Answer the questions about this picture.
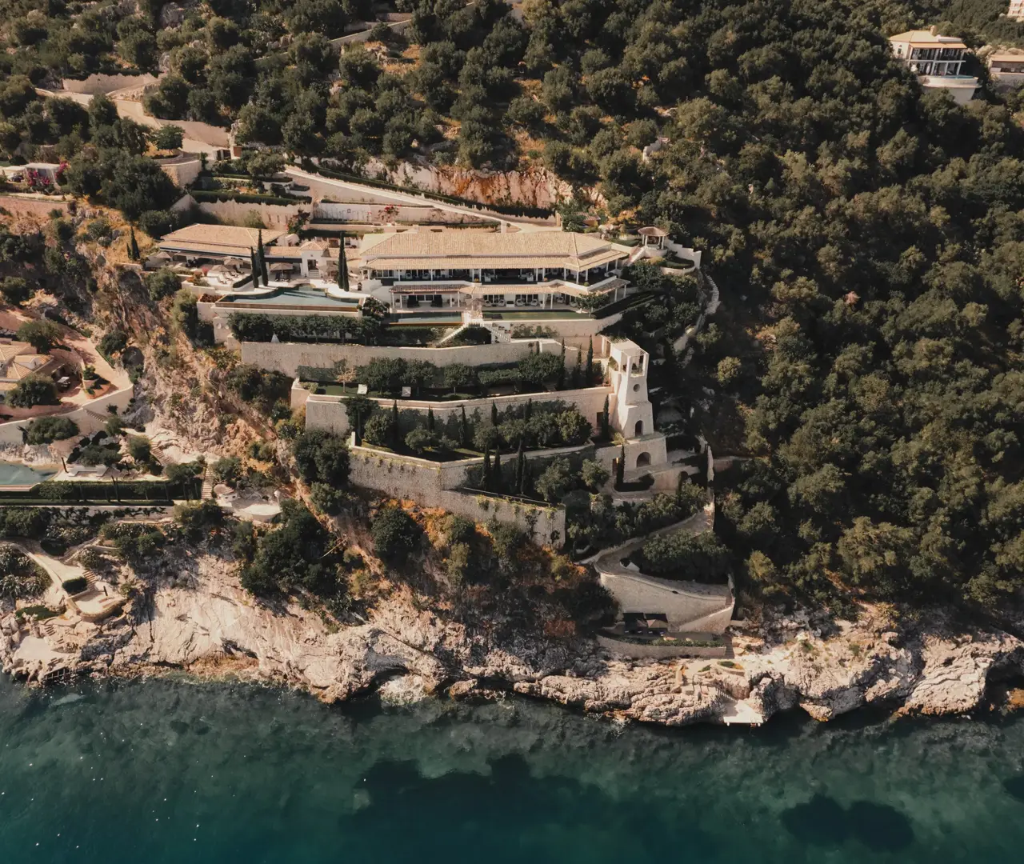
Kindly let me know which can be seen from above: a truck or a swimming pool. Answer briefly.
swimming pool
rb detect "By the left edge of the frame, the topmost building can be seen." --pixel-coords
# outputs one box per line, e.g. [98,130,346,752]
[0,165,68,194]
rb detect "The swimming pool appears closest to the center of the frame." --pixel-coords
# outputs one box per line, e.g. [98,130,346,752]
[394,313,464,337]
